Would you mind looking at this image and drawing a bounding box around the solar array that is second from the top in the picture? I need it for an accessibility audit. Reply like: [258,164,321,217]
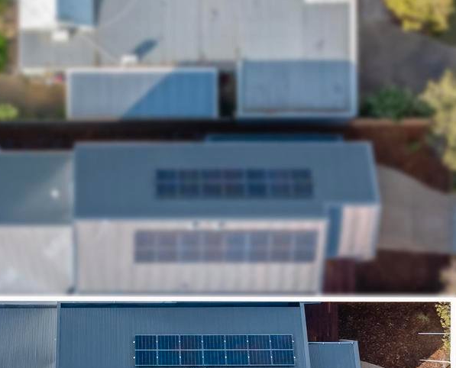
[131,234,316,266]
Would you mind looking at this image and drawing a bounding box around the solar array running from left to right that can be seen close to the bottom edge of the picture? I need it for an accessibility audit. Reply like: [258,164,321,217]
[133,335,295,364]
